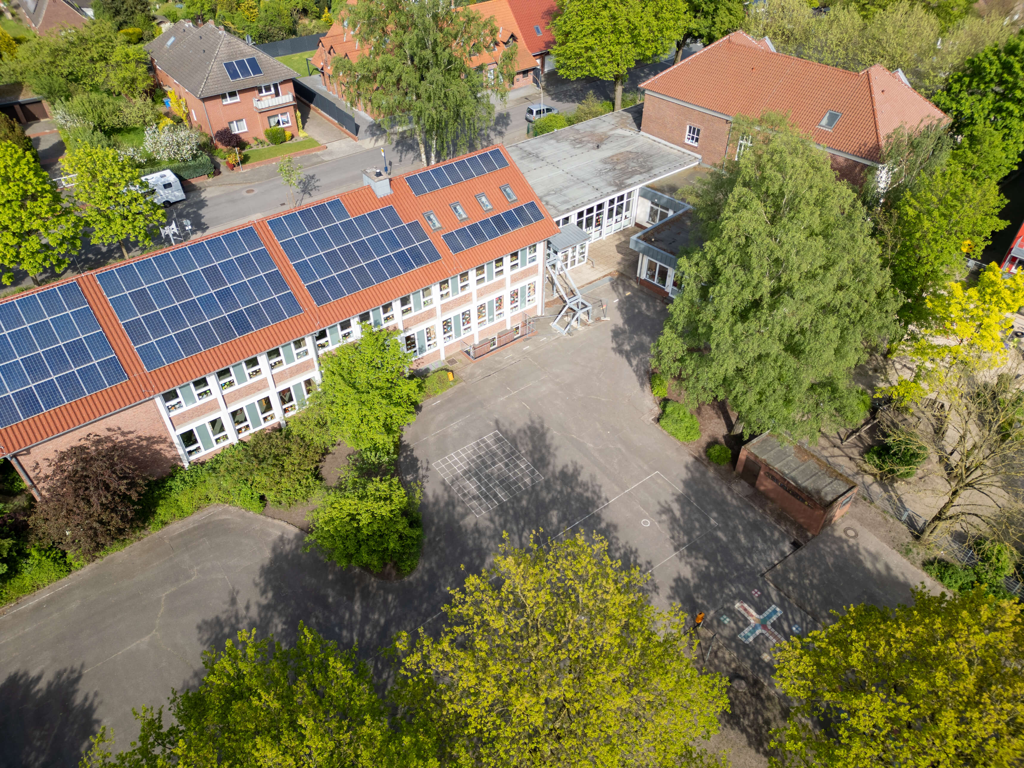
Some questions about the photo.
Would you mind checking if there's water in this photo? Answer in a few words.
No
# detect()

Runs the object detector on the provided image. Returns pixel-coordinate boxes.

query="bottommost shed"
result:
[735,422,861,537]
